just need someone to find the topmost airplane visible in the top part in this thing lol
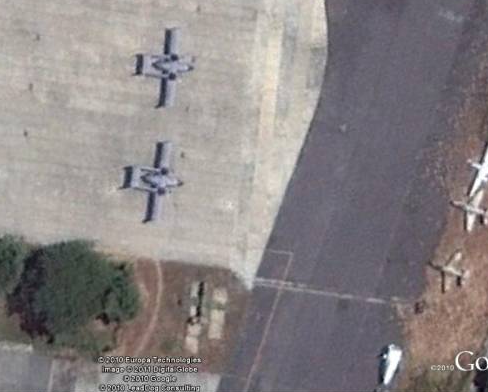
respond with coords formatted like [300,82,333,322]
[141,29,194,106]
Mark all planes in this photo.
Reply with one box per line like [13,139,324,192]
[130,142,185,221]
[450,189,488,233]
[428,251,469,291]
[467,144,488,198]
[141,29,194,106]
